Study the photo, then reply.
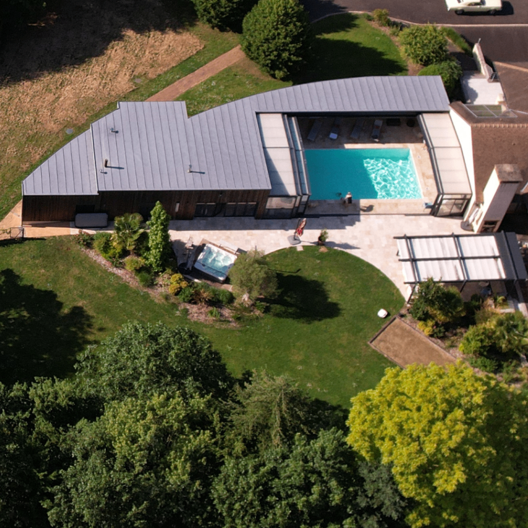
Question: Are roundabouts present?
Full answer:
No, there appears to be no roundabout in this shot.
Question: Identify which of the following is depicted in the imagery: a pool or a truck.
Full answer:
This aerial view contains a pool.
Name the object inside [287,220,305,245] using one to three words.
umbrella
